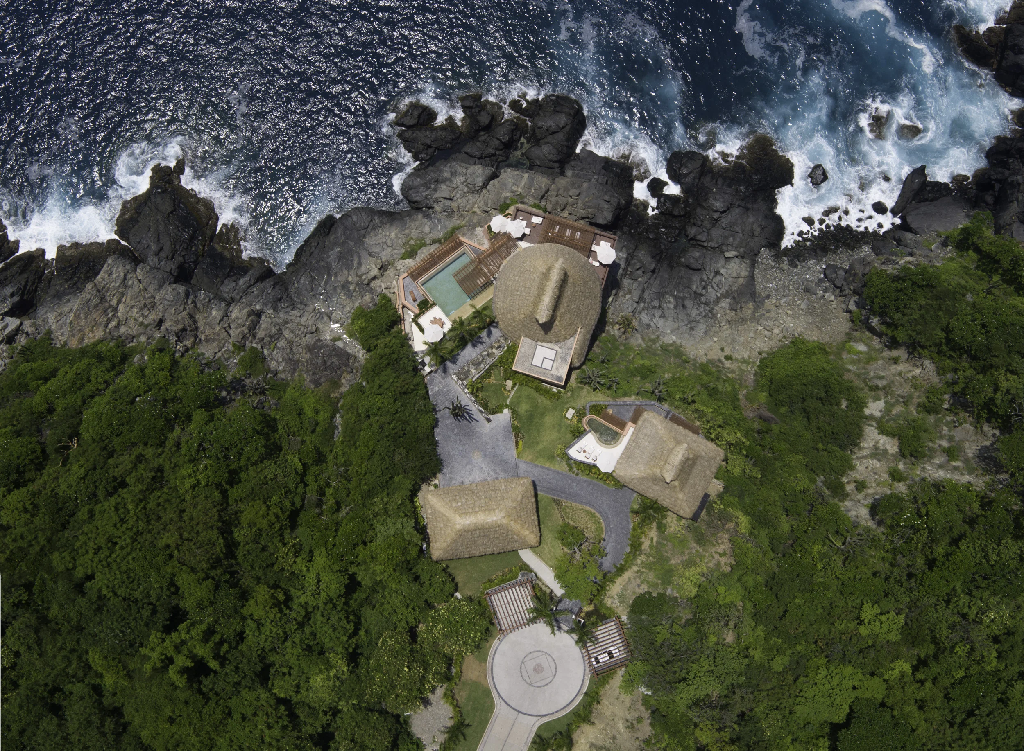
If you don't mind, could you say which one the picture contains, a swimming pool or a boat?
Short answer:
swimming pool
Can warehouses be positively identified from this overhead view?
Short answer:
No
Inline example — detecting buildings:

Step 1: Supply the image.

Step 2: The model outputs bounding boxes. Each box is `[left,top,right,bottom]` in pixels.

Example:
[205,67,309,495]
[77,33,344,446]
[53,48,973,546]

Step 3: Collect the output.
[491,242,603,391]
[423,476,543,562]
[610,408,726,521]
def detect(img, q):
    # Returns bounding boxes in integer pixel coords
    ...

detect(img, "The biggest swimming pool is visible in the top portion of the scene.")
[415,244,494,321]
